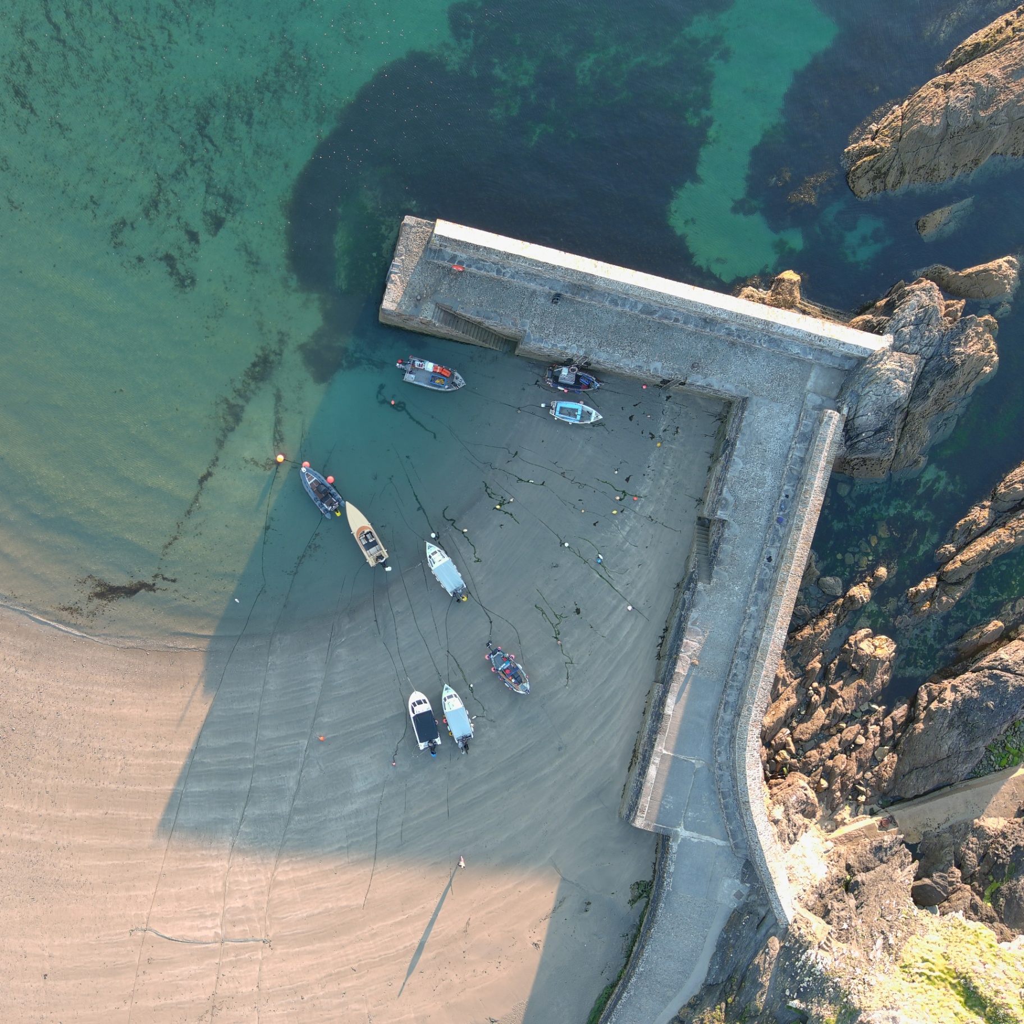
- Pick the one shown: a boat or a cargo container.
boat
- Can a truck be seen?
No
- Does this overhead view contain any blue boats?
Yes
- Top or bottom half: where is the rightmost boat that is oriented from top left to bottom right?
bottom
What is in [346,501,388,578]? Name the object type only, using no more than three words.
boat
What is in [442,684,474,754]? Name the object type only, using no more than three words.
boat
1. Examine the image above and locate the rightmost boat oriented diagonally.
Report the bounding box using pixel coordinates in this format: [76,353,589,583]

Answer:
[481,641,531,694]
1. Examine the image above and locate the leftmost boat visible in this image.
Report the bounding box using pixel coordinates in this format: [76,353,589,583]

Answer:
[301,464,348,523]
